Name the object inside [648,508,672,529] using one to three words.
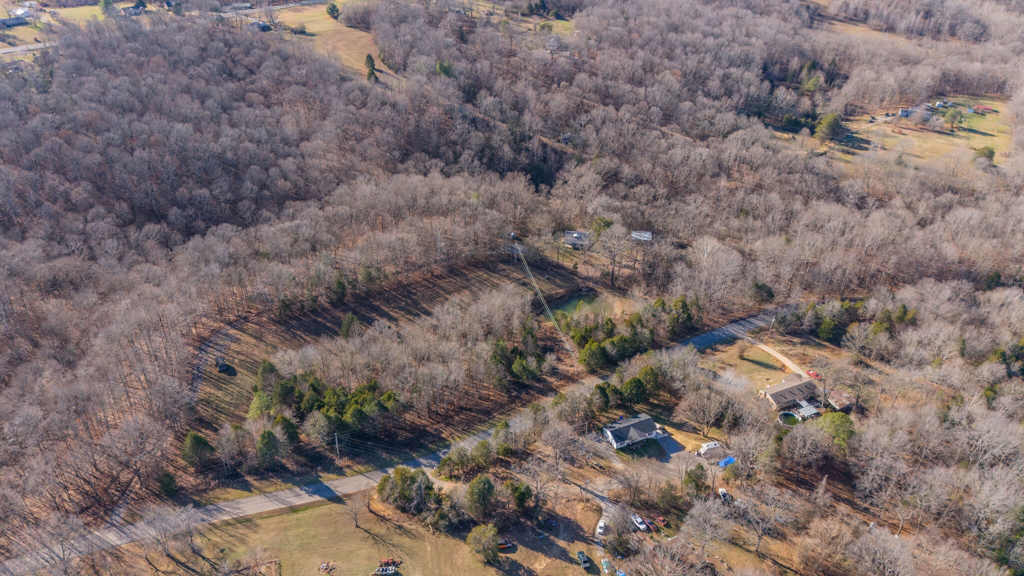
truck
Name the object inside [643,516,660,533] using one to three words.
car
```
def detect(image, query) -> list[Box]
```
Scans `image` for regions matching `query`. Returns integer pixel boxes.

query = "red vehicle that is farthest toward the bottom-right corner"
[804,368,825,382]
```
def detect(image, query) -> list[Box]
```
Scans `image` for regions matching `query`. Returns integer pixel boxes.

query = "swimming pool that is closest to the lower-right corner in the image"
[779,412,802,431]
